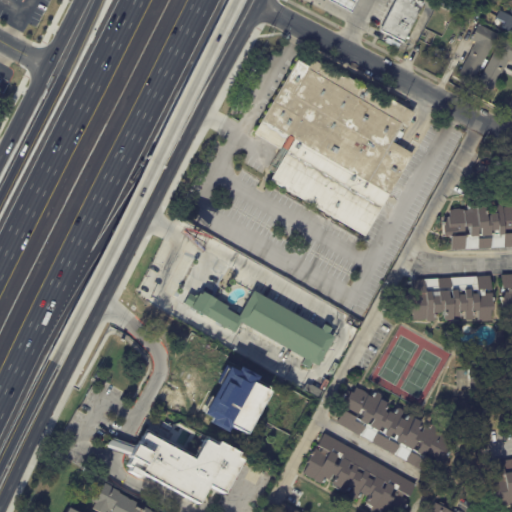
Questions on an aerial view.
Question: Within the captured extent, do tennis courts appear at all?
Yes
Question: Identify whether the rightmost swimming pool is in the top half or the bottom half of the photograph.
bottom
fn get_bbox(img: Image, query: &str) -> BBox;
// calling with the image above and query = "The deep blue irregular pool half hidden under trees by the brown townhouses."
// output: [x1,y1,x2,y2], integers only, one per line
[462,326,496,346]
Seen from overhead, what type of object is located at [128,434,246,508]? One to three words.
building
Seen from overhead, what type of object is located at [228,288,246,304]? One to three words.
swimming pool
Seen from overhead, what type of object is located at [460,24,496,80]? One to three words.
house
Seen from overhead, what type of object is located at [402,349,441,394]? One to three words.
tennis court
